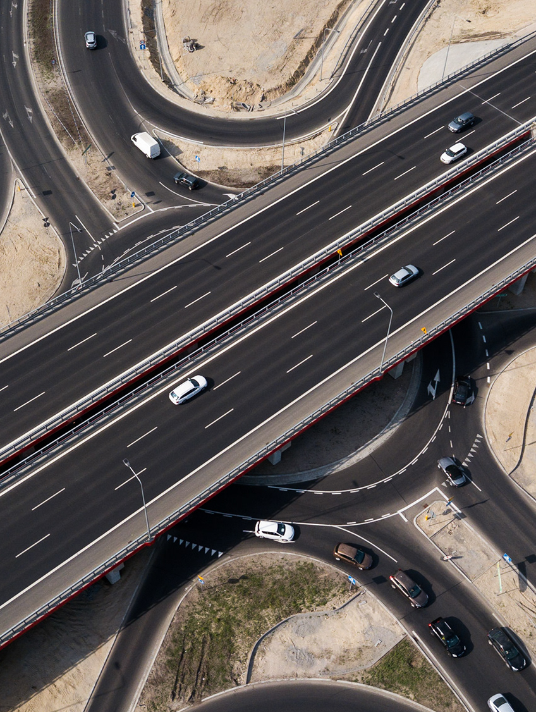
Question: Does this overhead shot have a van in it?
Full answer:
Yes, there's a van down there.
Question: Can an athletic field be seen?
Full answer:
No, there appears to be no athletic field in this shot.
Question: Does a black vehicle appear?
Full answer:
Yes, looking at the shot, I can spot a black vehicle.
